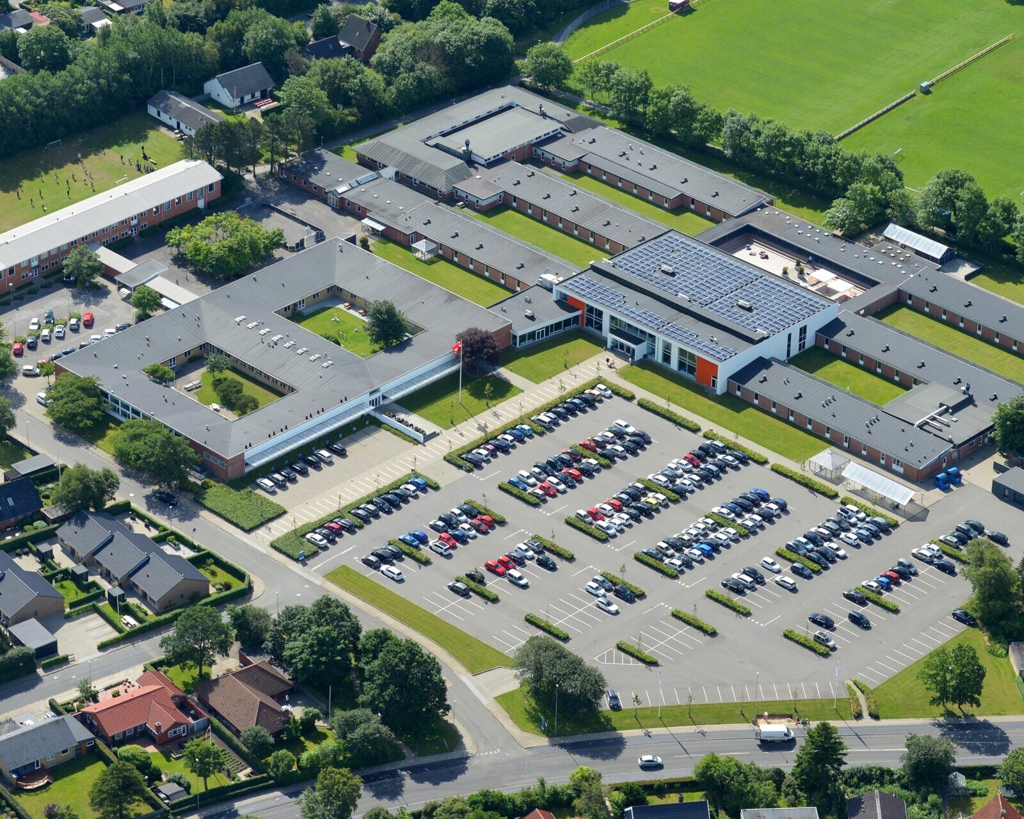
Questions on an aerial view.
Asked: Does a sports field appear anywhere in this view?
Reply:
Yes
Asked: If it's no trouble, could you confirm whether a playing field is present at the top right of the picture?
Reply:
Yes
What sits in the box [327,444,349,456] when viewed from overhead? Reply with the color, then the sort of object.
black vehicle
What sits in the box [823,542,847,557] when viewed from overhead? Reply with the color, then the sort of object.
white car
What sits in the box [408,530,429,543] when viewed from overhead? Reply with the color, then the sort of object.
blue vehicle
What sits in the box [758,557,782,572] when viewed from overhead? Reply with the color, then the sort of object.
white car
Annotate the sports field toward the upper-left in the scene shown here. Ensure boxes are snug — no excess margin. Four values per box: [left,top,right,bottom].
[0,116,189,235]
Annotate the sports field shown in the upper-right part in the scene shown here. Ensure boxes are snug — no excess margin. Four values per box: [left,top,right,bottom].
[556,0,1024,226]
